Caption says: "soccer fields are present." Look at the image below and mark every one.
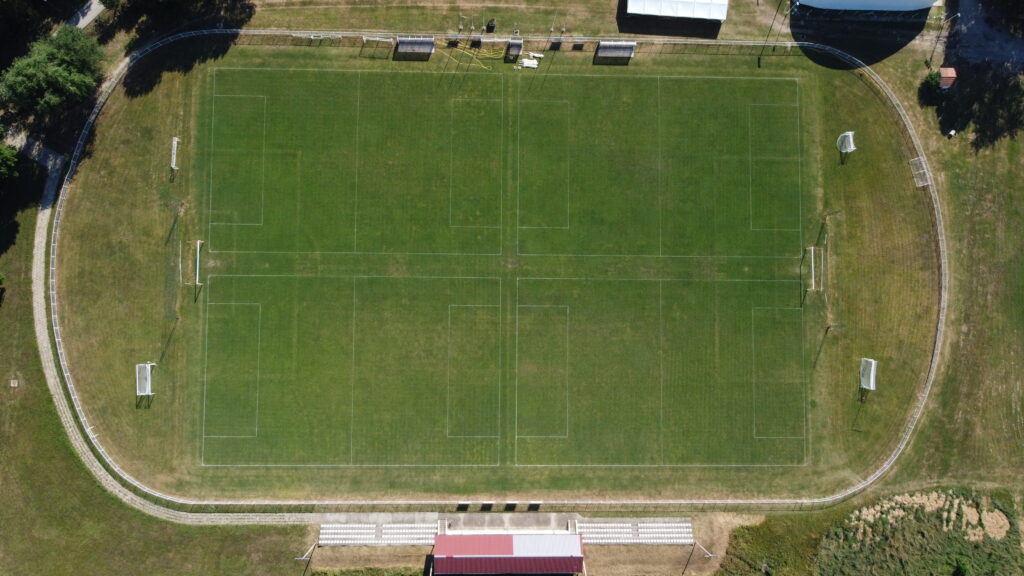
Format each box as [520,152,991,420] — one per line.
[516,278,805,466]
[209,68,502,255]
[518,74,802,257]
[202,275,501,466]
